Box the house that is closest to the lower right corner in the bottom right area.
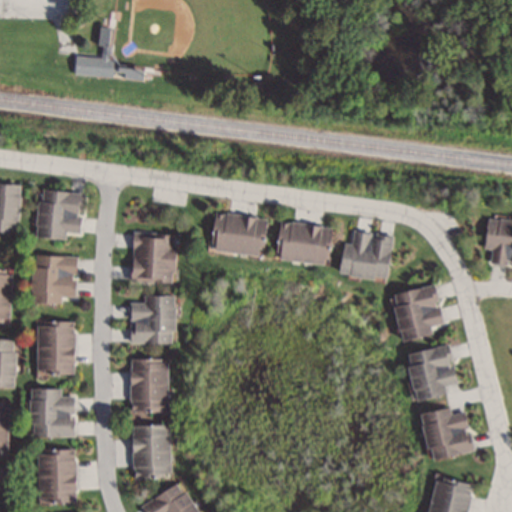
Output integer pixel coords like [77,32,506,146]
[432,476,472,512]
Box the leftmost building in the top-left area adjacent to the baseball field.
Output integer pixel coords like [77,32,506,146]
[76,27,119,78]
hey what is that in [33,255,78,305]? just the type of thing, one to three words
house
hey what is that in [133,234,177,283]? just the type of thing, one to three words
house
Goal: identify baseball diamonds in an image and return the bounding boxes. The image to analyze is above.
[117,0,270,78]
